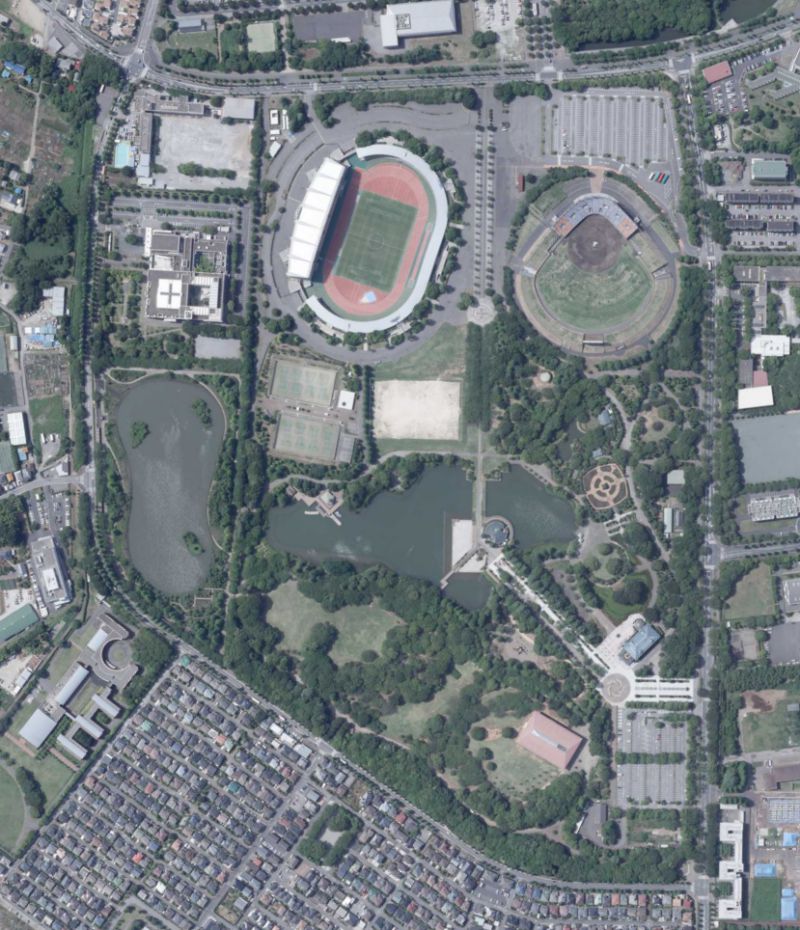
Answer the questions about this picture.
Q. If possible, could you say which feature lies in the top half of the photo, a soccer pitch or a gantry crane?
soccer pitch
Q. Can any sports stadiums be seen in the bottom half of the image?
No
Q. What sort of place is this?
residential area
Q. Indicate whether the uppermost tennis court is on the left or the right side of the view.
left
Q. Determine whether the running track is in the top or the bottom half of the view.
top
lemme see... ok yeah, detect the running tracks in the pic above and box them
[323,165,430,317]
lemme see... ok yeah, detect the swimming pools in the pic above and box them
[113,141,132,167]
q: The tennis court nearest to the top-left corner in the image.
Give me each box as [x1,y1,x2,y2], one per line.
[247,22,276,53]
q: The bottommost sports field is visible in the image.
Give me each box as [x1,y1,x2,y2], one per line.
[750,878,781,921]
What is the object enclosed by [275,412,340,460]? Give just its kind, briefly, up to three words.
tennis court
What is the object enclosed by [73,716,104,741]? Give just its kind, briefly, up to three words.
building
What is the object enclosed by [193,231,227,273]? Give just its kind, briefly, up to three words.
building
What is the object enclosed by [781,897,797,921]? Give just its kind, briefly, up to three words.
shed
